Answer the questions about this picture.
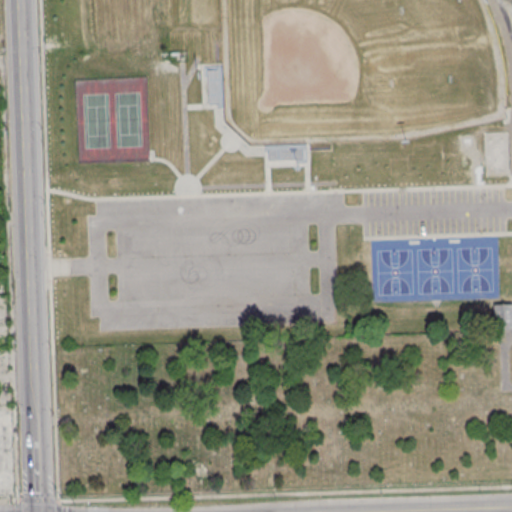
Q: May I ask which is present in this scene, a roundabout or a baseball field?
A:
baseball field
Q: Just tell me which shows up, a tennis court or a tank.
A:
tennis court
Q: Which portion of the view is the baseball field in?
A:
top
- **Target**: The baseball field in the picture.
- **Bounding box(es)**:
[256,6,361,114]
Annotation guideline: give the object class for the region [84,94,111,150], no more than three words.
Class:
tennis court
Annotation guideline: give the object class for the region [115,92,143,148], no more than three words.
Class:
tennis court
